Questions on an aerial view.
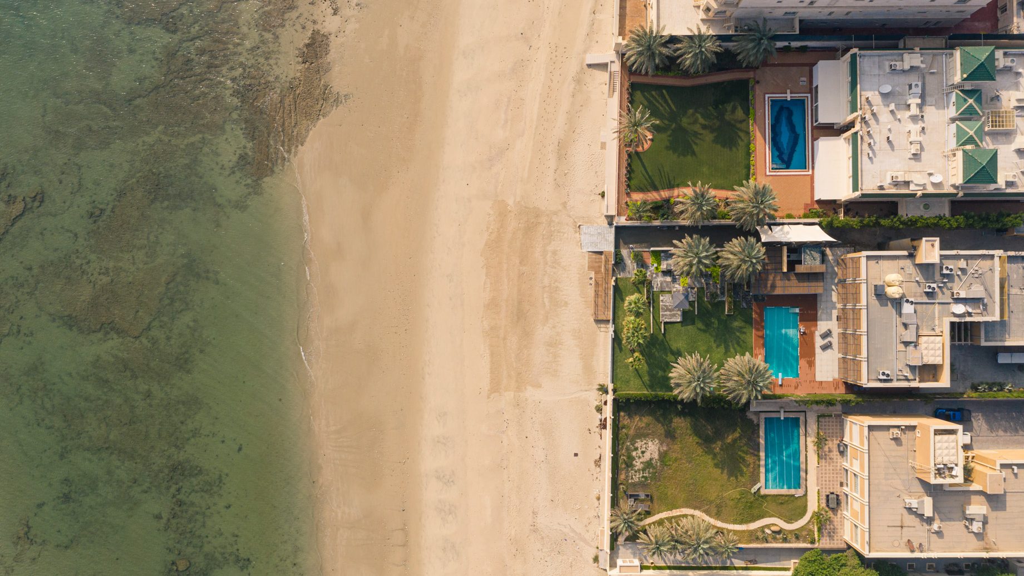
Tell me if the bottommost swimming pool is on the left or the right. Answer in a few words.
right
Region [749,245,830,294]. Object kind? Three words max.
building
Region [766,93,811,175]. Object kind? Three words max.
swimming pool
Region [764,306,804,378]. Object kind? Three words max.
swimming pool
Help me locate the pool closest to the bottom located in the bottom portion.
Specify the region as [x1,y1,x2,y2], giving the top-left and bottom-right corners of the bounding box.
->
[760,412,806,495]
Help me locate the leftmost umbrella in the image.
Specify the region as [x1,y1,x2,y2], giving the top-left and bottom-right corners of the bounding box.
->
[673,293,688,309]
